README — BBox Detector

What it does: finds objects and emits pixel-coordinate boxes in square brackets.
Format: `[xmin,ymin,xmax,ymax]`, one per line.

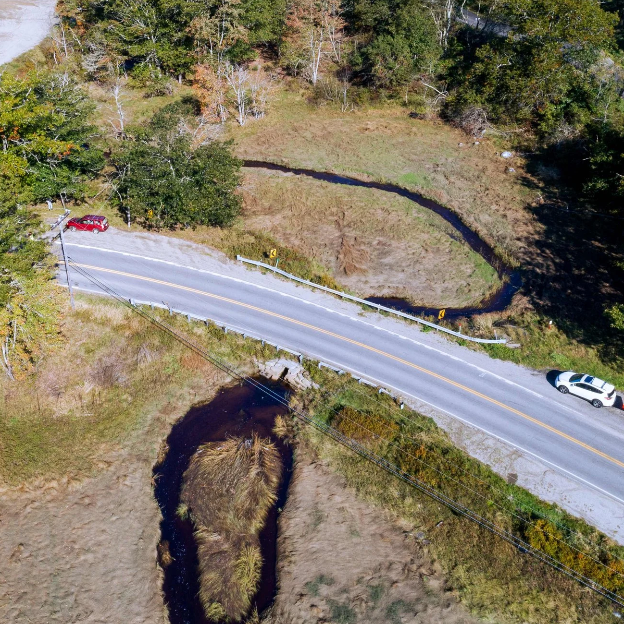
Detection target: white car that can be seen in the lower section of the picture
[555,371,620,409]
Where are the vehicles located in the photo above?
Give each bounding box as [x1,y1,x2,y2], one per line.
[65,213,110,235]
[555,371,620,409]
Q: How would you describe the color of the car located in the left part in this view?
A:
red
